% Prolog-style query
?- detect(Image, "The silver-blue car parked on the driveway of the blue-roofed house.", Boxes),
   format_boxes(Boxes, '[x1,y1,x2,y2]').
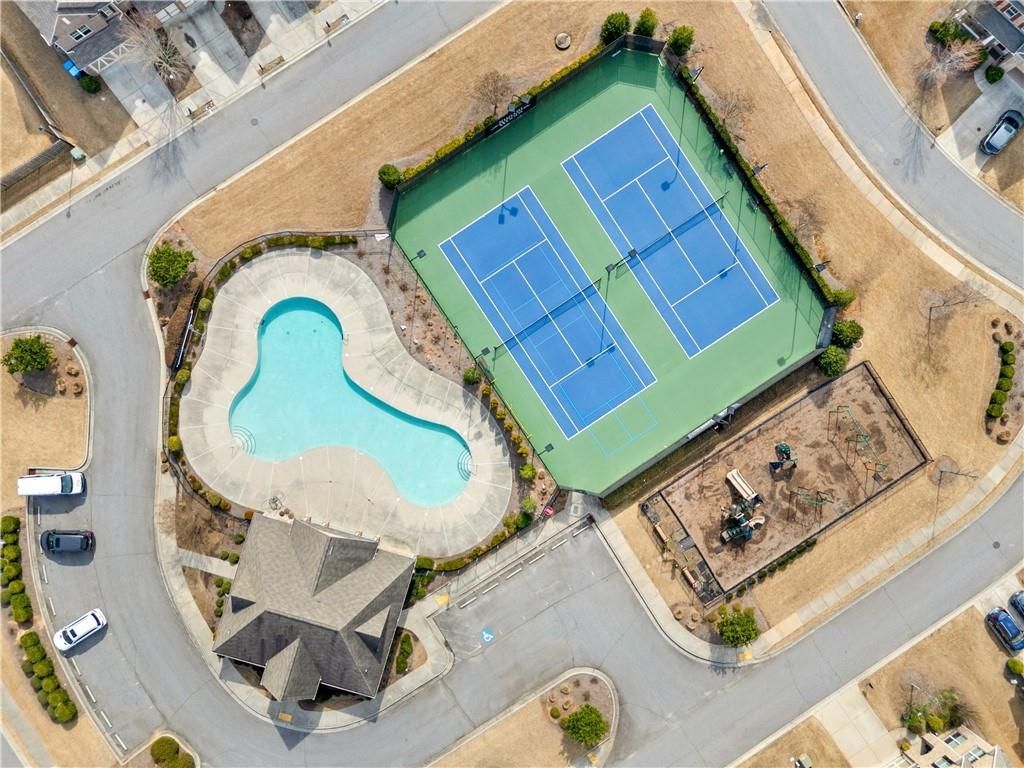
[979,107,1024,156]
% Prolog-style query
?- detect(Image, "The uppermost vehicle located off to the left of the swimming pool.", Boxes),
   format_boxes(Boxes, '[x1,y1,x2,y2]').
[19,471,85,496]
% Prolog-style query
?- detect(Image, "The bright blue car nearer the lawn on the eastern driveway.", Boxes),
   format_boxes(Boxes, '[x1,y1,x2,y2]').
[983,604,1024,654]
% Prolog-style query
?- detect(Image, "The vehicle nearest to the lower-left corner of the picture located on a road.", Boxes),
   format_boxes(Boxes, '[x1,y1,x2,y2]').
[52,607,108,650]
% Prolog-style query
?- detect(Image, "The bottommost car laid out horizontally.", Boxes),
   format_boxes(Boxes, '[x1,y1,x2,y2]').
[41,528,94,552]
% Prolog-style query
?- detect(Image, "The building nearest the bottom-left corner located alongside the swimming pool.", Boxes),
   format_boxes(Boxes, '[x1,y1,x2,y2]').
[213,512,418,702]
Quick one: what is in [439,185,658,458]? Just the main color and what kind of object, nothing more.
blue tennis court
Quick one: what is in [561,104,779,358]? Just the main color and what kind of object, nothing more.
blue tennis court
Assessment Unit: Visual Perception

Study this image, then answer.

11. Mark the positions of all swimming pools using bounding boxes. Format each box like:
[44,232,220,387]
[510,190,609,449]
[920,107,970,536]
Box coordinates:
[179,247,512,568]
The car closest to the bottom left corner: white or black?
white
